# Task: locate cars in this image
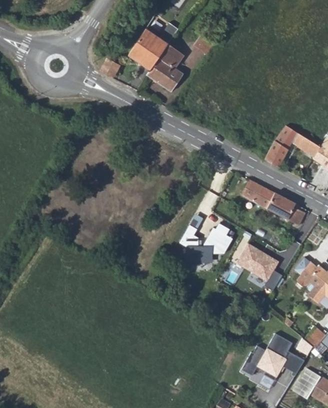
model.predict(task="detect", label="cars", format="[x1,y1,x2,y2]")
[297,180,308,188]
[215,135,226,142]
[208,214,218,222]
